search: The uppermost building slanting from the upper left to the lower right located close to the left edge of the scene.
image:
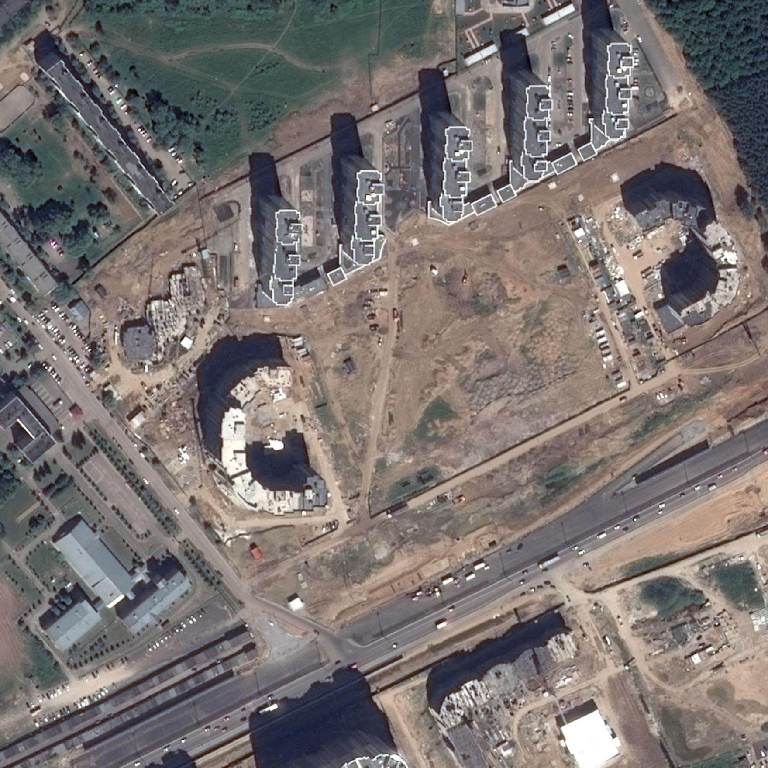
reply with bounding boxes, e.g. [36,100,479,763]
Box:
[37,52,174,216]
